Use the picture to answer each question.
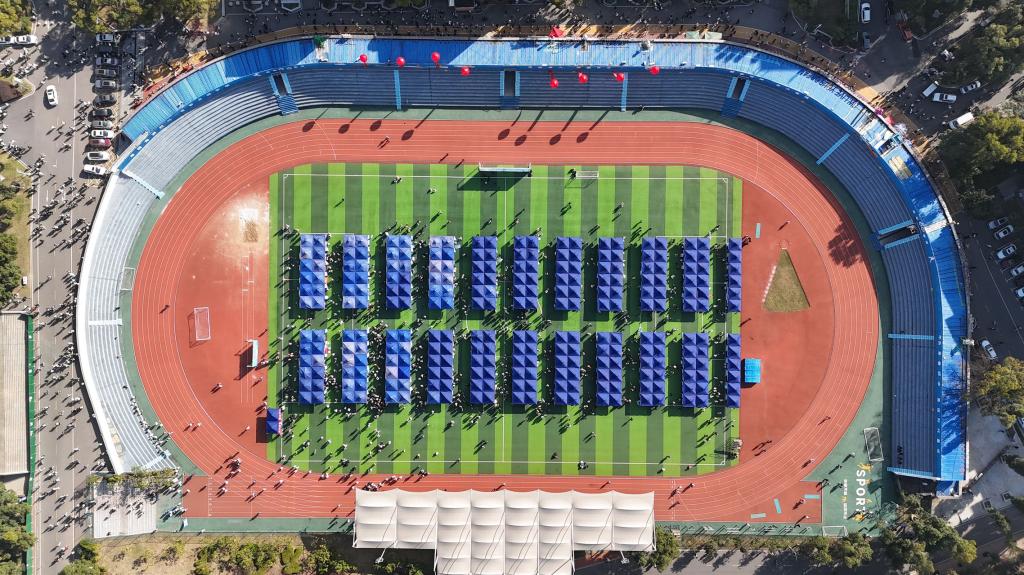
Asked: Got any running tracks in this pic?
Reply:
Yes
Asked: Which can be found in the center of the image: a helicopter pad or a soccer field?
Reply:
soccer field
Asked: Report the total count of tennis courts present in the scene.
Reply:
0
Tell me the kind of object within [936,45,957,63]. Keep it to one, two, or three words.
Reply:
vehicle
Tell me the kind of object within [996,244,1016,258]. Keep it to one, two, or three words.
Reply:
car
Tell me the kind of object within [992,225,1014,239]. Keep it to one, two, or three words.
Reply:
car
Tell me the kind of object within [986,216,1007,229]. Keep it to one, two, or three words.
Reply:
vehicle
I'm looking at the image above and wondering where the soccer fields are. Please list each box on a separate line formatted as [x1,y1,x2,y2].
[269,163,743,476]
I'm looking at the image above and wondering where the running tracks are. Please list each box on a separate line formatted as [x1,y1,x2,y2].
[130,119,879,522]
